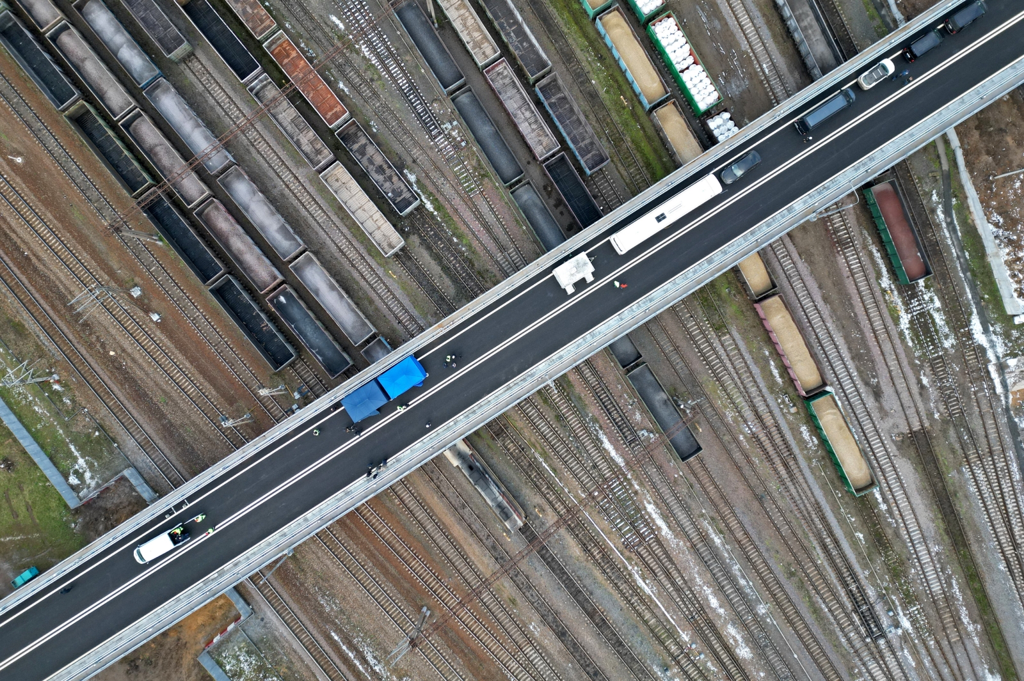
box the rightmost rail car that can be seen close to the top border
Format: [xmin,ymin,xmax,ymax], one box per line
[767,0,842,84]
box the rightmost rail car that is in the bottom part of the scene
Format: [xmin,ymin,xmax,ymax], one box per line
[802,390,879,497]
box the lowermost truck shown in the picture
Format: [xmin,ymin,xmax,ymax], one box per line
[11,564,43,589]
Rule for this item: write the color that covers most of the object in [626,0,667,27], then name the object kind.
green rail car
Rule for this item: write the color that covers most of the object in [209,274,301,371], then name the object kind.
black rail car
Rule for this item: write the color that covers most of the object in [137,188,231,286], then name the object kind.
black rail car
